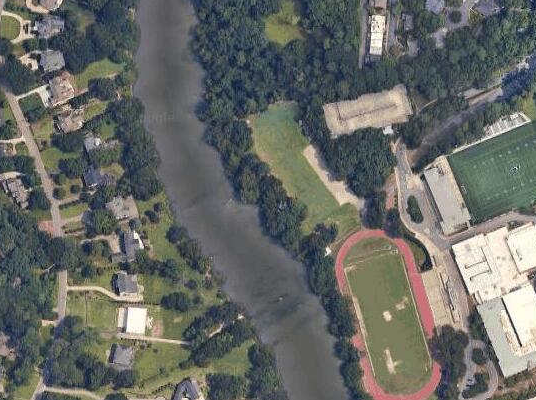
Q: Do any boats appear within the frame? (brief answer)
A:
No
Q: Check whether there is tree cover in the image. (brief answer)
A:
Yes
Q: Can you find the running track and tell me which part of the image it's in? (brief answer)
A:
bottom right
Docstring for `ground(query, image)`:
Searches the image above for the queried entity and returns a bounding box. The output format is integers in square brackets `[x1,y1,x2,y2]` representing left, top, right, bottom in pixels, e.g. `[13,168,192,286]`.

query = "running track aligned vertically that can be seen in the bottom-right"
[337,228,442,400]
